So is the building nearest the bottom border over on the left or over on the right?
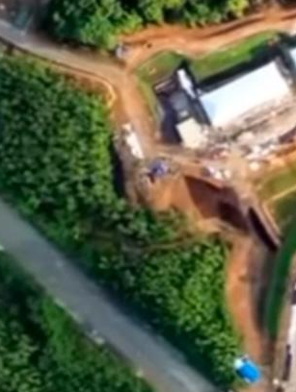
right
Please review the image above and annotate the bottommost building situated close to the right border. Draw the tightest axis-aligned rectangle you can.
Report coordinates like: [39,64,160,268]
[200,61,292,128]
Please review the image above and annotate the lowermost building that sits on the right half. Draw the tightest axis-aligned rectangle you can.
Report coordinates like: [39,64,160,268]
[178,117,207,149]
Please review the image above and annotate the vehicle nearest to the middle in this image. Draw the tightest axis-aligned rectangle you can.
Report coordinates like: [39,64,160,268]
[142,163,165,177]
